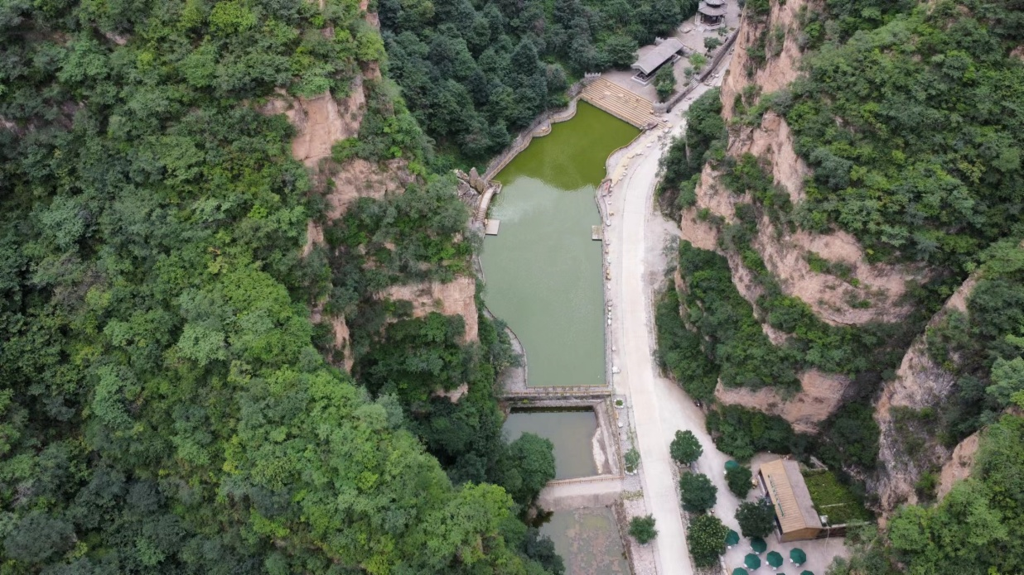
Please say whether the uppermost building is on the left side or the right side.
right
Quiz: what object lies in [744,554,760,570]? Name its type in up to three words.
umbrella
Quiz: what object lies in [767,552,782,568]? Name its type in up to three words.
umbrella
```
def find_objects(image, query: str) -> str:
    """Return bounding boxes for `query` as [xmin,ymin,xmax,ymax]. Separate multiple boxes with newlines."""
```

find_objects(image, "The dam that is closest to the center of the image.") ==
[500,385,612,415]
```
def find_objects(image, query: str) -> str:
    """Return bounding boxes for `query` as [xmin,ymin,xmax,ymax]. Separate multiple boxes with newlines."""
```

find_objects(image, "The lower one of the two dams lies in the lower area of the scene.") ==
[533,474,623,509]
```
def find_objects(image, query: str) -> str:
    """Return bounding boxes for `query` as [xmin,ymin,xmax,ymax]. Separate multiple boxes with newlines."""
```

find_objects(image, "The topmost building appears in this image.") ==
[696,0,730,33]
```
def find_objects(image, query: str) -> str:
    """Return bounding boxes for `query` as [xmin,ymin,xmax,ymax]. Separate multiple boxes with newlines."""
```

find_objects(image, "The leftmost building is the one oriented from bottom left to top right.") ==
[630,35,685,81]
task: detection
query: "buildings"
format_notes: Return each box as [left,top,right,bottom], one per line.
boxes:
[696,0,730,33]
[752,463,824,541]
[630,35,685,81]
